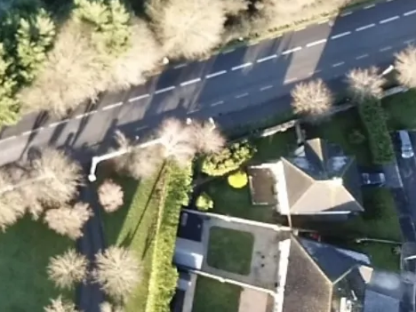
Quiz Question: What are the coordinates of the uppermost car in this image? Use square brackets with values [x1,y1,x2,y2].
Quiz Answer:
[397,128,416,160]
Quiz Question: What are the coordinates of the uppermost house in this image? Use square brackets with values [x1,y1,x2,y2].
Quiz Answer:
[271,141,364,218]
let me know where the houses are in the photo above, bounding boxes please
[275,238,376,312]
[271,141,364,218]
